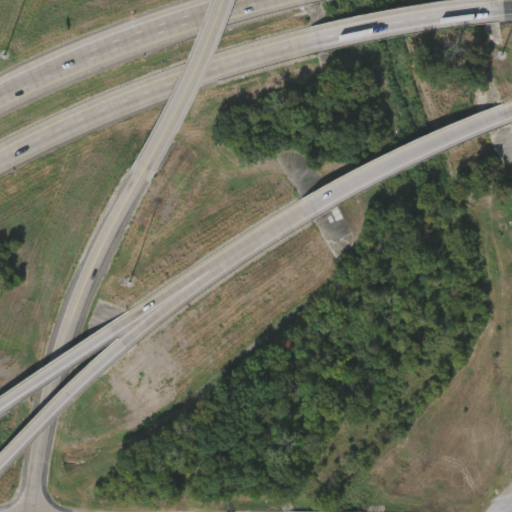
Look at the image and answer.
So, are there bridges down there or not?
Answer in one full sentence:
Yes, you can see a bridge in this photo.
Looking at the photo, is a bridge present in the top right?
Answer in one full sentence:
Yes, there is a bridge in the top right.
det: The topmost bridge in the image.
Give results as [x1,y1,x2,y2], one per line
[308,0,502,72]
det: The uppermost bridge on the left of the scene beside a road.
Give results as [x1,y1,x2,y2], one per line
[129,0,235,184]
